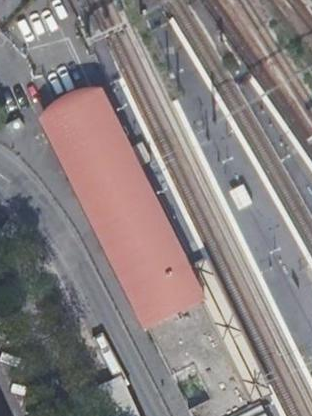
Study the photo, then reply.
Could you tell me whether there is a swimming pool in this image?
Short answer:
No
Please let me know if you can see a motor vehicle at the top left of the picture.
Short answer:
Yes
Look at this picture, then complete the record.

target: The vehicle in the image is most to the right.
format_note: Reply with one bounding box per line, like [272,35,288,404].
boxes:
[98,334,122,372]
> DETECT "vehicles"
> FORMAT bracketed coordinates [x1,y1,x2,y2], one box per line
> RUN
[0,352,21,366]
[52,0,68,18]
[57,64,73,88]
[47,70,63,93]
[30,12,46,36]
[42,9,58,32]
[2,88,16,110]
[27,82,40,102]
[14,86,28,107]
[17,18,34,42]
[98,334,122,372]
